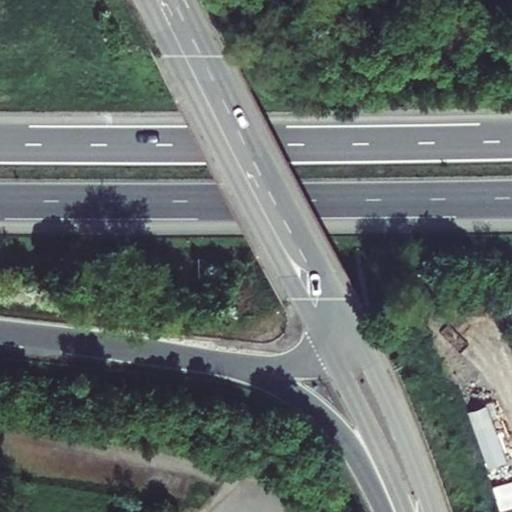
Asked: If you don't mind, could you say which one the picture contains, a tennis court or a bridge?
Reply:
bridge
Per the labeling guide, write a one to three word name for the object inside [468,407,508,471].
shed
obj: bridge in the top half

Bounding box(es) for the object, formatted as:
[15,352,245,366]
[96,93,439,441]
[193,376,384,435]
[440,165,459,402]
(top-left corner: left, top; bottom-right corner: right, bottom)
[152,56,358,300]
